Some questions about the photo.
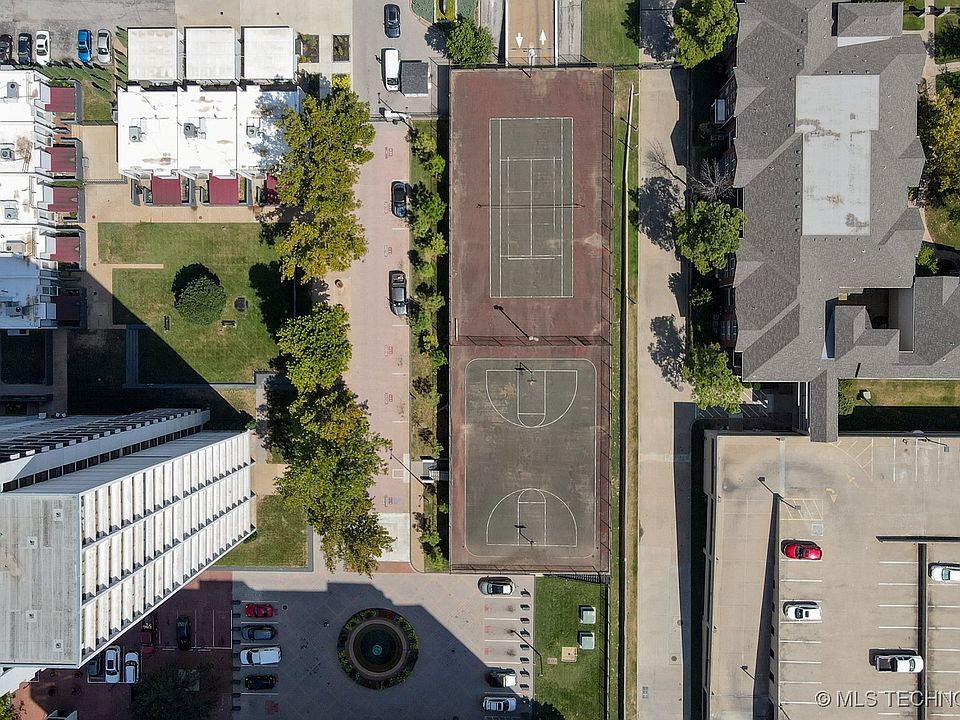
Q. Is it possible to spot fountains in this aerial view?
Yes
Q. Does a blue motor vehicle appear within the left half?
Yes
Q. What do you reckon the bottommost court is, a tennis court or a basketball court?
basketball court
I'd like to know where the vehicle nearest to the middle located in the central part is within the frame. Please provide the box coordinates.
[390,274,407,315]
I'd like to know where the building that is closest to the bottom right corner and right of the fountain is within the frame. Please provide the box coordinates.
[697,428,960,720]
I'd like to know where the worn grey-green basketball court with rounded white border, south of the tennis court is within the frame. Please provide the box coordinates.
[451,346,610,572]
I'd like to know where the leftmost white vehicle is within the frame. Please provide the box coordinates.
[34,31,52,67]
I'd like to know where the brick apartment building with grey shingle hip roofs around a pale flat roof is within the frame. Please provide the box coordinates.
[711,0,960,441]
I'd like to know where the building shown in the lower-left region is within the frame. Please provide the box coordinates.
[0,408,258,703]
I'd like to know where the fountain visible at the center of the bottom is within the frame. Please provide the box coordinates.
[338,608,418,690]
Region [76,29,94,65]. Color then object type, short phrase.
blue car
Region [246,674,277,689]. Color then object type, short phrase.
black car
